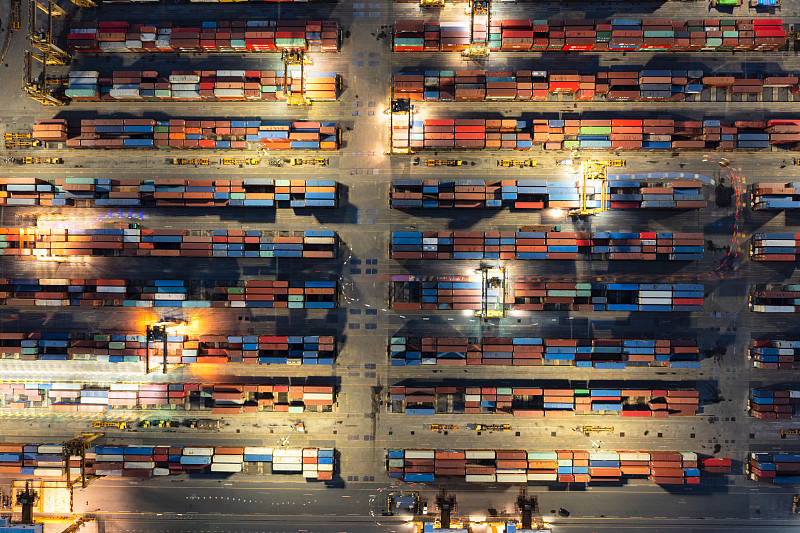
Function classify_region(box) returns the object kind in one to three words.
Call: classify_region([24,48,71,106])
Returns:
container crane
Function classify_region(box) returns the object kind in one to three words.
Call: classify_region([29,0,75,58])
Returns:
container crane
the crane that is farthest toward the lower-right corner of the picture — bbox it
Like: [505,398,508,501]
[484,493,551,533]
